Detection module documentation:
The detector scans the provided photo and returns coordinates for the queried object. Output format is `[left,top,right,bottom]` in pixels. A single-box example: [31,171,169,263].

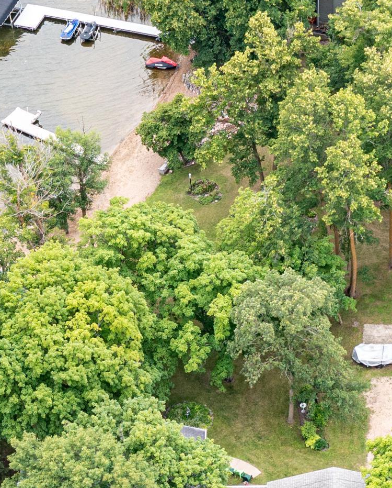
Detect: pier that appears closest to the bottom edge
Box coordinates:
[1,106,68,150]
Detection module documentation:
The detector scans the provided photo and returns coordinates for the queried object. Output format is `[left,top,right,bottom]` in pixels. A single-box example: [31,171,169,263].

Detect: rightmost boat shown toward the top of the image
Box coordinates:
[147,57,177,70]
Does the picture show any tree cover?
Yes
